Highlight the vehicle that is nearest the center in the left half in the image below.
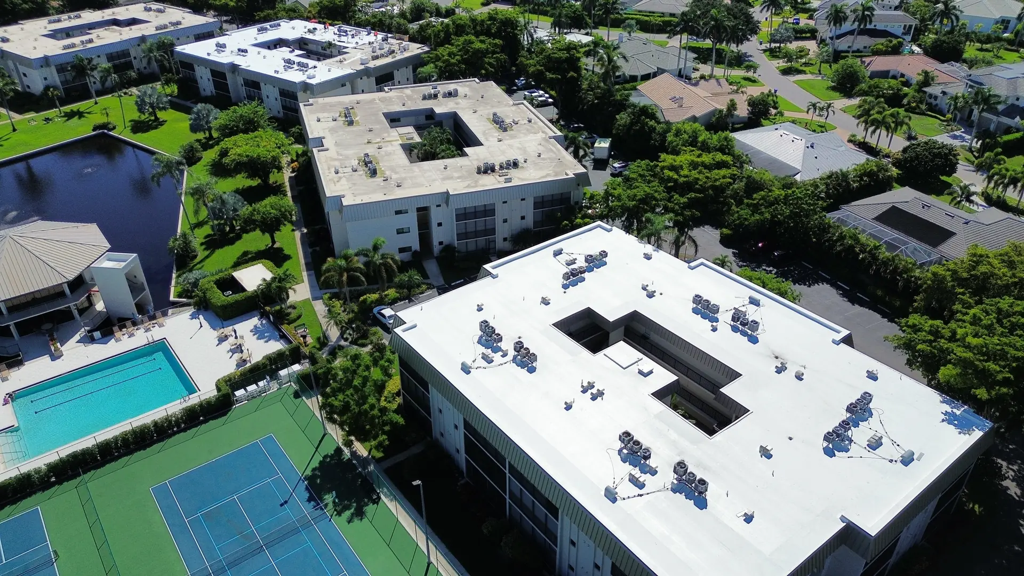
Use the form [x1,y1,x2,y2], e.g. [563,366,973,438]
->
[368,303,398,327]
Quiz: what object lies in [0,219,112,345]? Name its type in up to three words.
building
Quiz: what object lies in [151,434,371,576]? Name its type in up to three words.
tennis court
